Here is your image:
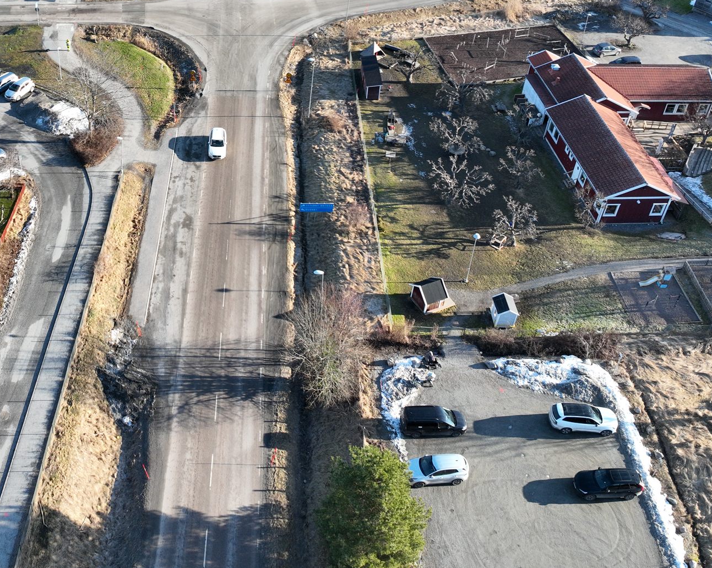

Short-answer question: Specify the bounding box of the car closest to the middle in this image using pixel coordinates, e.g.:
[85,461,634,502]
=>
[399,405,471,439]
